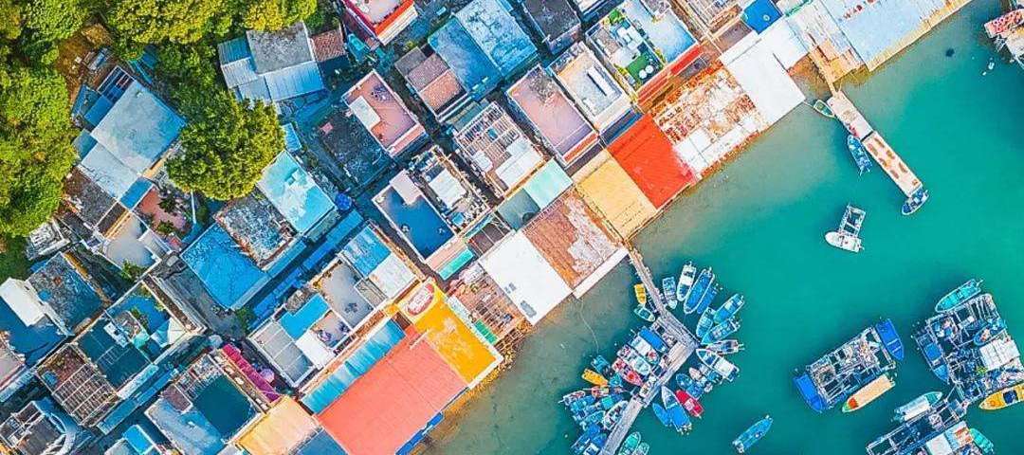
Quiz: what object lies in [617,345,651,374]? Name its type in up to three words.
boat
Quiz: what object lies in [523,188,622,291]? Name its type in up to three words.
building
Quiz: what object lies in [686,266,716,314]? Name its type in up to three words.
boat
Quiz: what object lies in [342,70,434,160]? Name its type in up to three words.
house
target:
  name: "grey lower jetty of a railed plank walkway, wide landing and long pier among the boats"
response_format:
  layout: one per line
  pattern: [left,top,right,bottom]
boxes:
[602,244,705,455]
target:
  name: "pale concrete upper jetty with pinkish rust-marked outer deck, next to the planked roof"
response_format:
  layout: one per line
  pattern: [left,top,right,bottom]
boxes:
[808,52,921,196]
